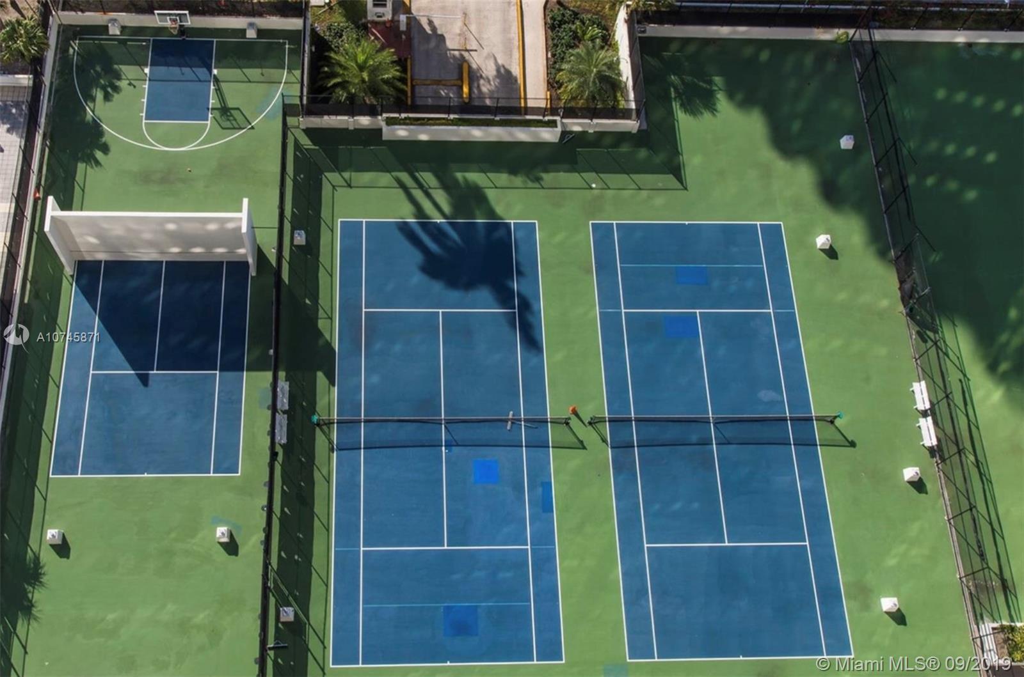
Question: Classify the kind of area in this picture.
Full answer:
This image shows a sports ground.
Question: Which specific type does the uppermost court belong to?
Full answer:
Looking closely, the uppermost court is a basketball court.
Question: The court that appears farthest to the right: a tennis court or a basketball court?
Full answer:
What you see as the court that appears farthest to the right is a tennis court.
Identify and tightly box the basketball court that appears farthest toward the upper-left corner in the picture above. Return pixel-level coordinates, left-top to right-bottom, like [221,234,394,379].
[73,36,293,150]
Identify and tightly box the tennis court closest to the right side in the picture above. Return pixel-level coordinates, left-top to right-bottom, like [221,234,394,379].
[590,221,854,662]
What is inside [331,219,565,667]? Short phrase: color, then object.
blue tennis court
